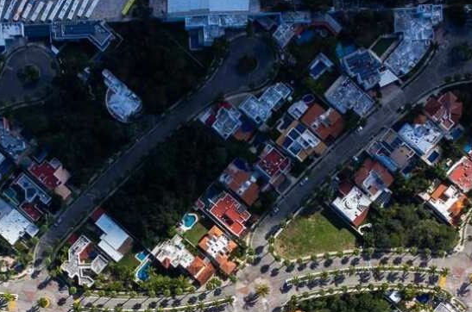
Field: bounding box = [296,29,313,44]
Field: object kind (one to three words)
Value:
swimming pool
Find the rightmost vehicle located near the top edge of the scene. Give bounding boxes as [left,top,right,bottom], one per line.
[121,0,135,16]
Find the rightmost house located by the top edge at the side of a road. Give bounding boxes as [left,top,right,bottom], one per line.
[379,4,443,87]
